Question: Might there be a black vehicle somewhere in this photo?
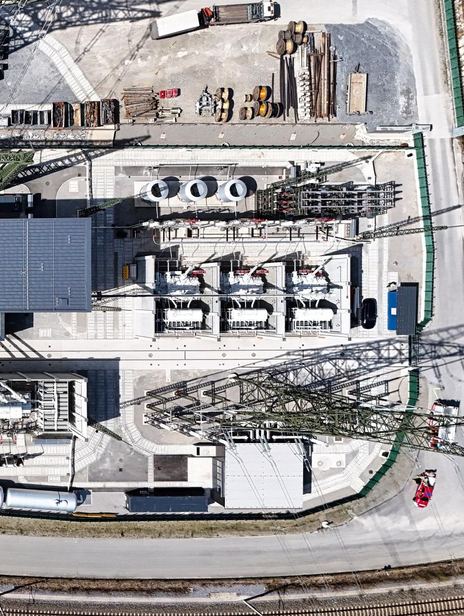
Yes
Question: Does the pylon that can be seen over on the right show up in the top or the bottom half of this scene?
bottom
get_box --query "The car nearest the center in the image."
[358,297,377,329]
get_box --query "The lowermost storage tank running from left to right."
[6,484,78,513]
